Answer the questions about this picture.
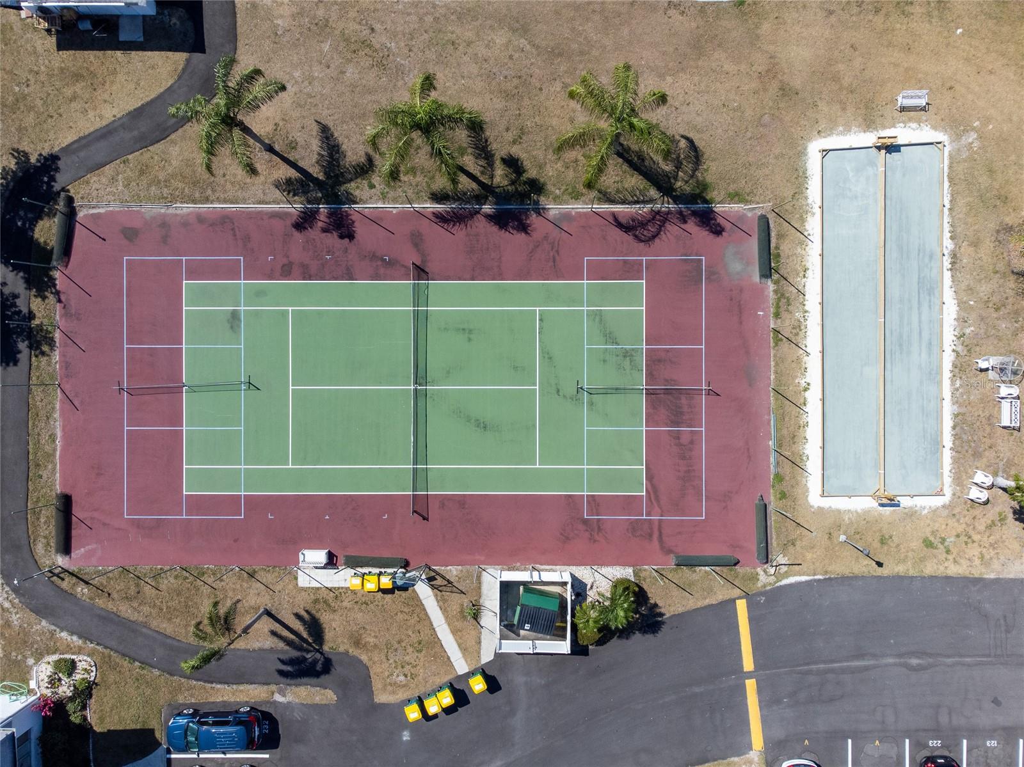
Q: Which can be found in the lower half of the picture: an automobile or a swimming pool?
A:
automobile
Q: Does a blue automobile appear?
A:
Yes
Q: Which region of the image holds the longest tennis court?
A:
center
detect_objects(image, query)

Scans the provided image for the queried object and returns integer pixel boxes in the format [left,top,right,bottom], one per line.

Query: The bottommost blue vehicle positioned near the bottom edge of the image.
[168,706,264,760]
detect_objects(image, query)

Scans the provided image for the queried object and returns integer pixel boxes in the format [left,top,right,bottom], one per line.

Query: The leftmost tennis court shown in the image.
[57,208,771,567]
